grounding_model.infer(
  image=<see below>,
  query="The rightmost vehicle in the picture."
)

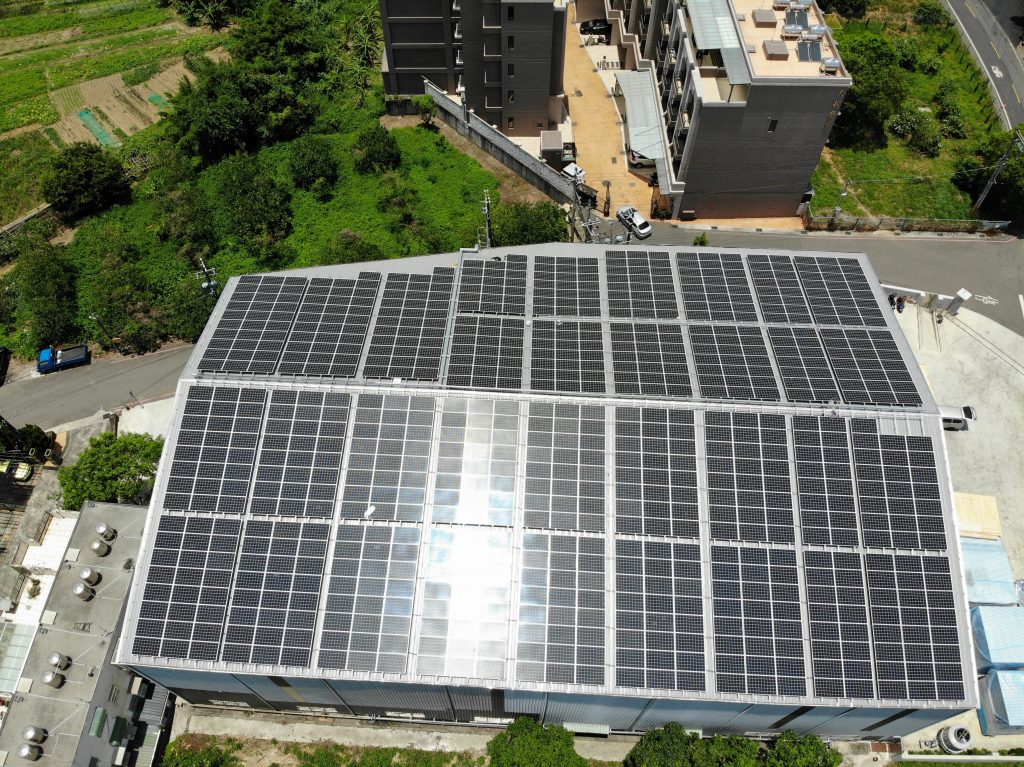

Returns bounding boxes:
[934,404,979,433]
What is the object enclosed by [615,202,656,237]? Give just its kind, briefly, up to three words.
car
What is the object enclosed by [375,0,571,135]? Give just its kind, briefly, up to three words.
building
